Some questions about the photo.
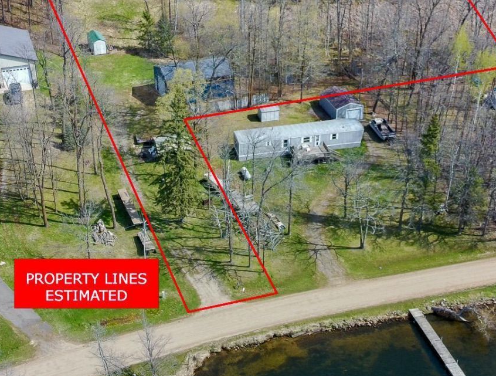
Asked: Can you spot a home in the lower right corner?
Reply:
No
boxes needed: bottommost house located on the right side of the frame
[232,117,364,159]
